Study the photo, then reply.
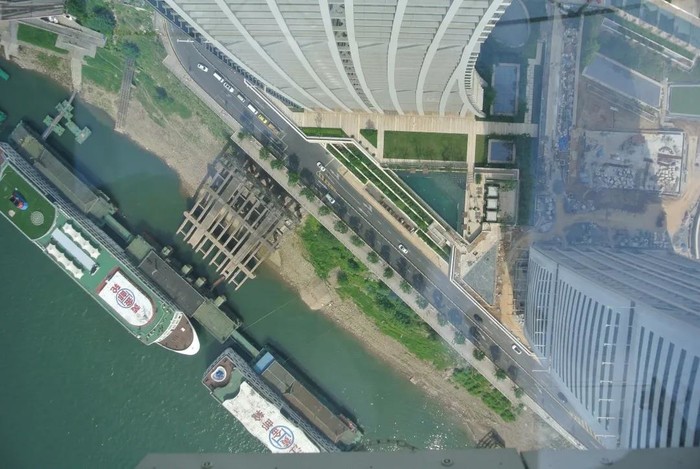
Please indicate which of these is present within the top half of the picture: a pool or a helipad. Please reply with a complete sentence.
There is a pool within the top half of the picture.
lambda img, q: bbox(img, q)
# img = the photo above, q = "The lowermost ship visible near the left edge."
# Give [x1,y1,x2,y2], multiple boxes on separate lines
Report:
[0,143,205,353]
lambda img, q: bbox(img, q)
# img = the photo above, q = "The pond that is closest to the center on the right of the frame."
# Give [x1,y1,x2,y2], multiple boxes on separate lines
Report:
[385,168,467,239]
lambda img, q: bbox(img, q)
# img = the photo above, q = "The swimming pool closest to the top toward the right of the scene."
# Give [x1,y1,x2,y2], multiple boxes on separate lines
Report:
[489,0,532,45]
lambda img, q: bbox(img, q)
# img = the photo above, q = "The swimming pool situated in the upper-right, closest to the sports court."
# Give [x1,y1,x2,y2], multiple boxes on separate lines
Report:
[582,53,662,111]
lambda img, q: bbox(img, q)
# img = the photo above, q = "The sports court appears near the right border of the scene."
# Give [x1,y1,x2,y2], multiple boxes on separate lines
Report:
[665,83,700,116]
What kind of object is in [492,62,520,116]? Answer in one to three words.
swimming pool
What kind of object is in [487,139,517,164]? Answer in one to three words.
swimming pool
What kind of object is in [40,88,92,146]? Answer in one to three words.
pier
